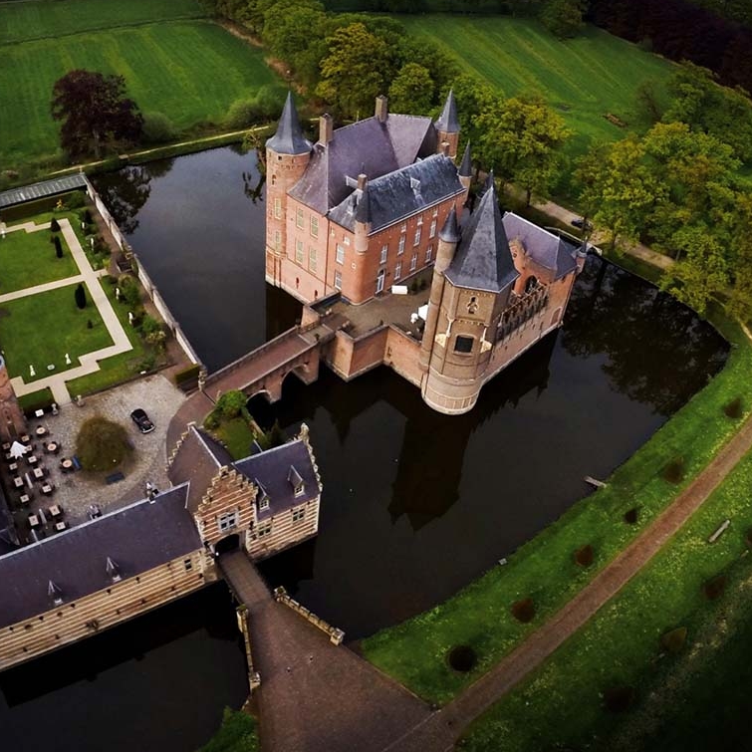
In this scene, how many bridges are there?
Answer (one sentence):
Altogether the scene contains 2 bridges.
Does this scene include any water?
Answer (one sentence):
Yes, there's water in this view.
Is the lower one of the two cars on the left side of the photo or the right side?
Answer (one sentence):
The lower one of the two cars is on the left side of the image.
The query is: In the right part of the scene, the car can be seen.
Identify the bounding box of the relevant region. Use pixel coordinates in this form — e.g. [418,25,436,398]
[569,218,593,231]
